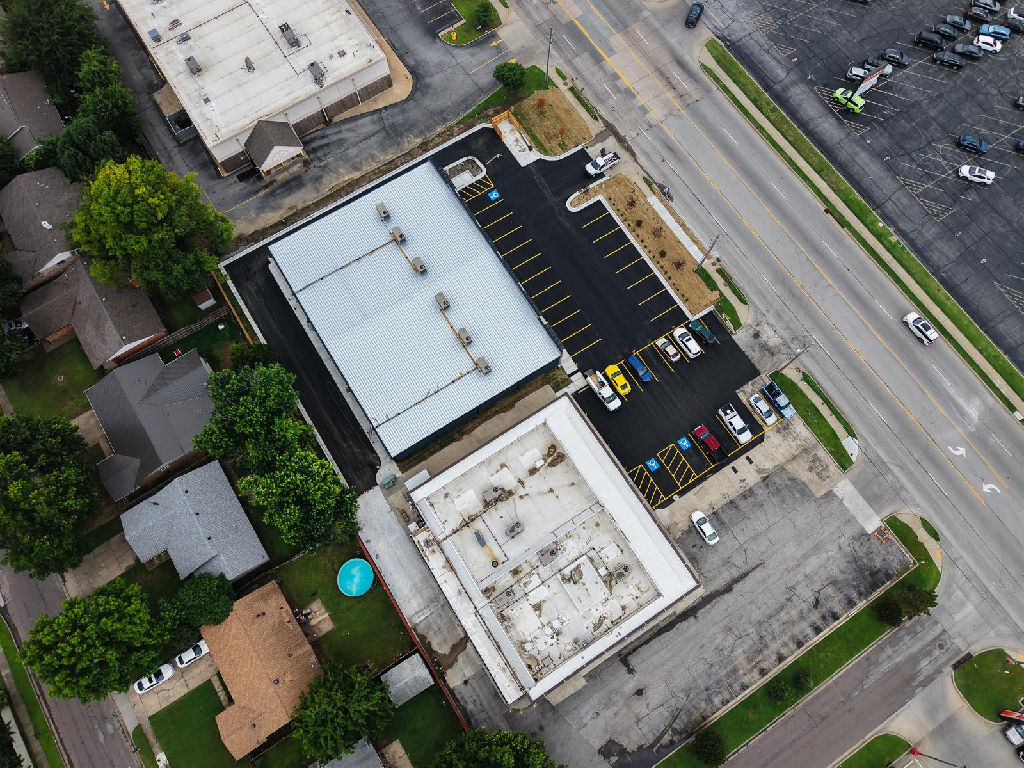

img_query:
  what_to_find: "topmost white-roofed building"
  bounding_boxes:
[122,0,392,176]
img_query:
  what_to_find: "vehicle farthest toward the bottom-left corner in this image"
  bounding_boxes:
[133,662,175,696]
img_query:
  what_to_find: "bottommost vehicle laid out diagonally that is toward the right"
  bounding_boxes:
[691,509,721,547]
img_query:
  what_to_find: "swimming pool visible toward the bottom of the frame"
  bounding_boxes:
[335,555,381,598]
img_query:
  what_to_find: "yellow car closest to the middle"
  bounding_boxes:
[606,364,632,396]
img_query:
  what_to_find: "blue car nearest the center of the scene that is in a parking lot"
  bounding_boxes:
[627,353,653,383]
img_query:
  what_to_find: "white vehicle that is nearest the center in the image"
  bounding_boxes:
[586,370,621,411]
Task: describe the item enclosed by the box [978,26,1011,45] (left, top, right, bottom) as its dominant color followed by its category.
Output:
blue car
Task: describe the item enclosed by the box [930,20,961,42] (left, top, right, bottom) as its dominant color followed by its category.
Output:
black car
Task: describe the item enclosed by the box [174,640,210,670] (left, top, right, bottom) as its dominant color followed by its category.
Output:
white car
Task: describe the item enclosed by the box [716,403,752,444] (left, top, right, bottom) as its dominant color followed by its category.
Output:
white truck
